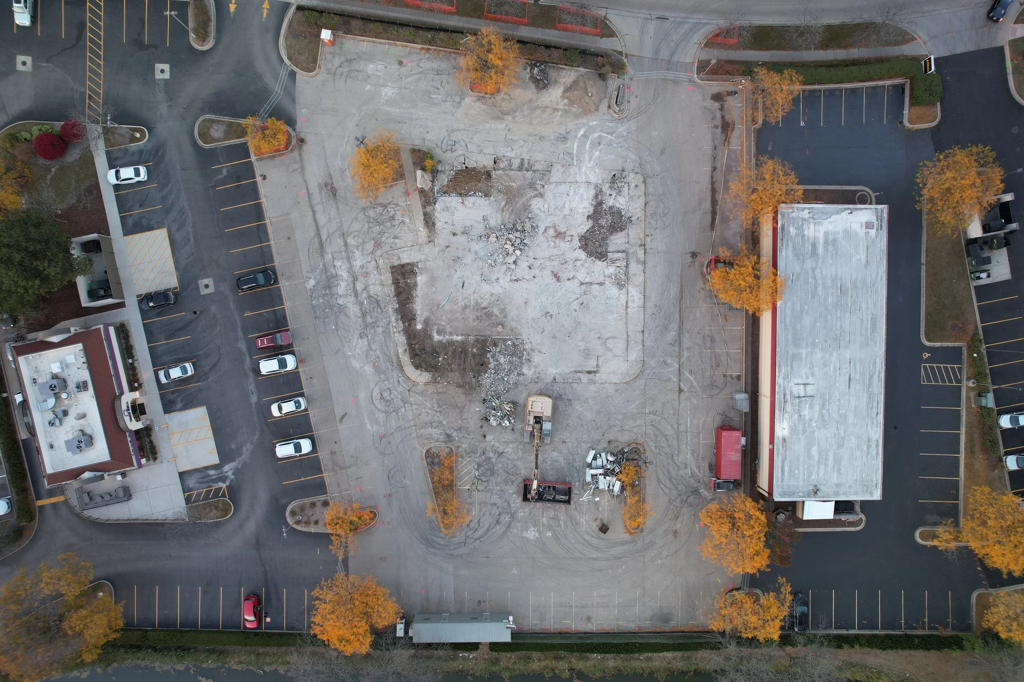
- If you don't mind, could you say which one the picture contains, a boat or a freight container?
freight container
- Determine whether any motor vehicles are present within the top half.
Yes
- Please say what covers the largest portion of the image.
paved ground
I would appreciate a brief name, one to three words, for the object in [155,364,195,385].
car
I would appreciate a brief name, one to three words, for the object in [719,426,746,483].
shipping container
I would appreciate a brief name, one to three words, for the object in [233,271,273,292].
car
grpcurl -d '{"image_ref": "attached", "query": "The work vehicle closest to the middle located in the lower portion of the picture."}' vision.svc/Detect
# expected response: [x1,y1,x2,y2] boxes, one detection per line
[524,400,552,504]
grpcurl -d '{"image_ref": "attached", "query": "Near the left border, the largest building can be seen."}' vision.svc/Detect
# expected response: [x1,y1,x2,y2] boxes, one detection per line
[15,325,149,485]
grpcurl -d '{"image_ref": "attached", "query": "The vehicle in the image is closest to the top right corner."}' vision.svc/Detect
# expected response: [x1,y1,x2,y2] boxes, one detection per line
[987,0,1014,24]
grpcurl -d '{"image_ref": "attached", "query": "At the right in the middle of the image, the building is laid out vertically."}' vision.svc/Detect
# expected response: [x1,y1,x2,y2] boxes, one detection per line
[753,201,889,501]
